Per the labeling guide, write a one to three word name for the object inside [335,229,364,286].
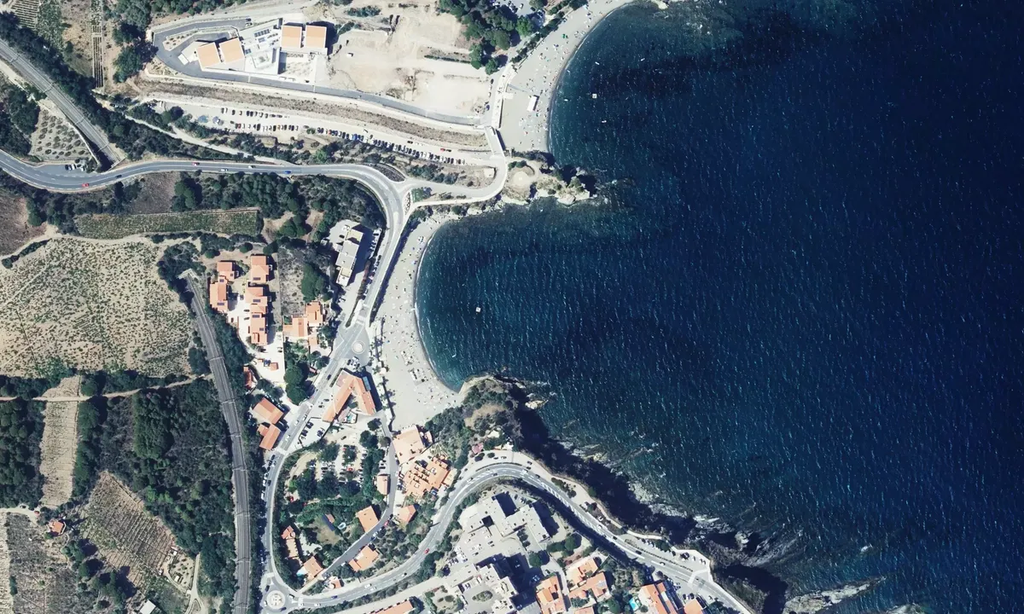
building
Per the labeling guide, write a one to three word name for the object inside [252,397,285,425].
house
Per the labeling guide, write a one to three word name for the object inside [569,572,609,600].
house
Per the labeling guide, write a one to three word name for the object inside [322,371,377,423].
building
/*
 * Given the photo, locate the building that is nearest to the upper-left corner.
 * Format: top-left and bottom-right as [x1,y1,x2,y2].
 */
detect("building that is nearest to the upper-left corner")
[178,37,246,72]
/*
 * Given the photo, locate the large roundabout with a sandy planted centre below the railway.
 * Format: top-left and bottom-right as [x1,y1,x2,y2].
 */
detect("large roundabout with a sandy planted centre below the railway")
[260,582,299,614]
